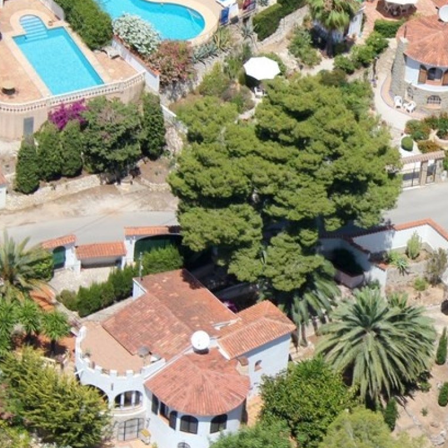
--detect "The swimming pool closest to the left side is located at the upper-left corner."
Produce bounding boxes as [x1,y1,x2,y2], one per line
[1,10,114,99]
